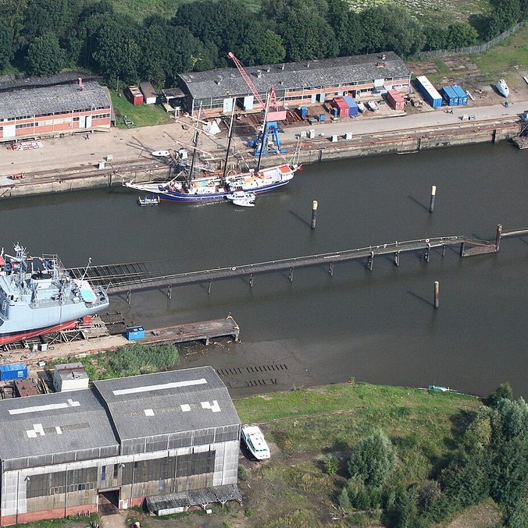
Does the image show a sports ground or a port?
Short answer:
port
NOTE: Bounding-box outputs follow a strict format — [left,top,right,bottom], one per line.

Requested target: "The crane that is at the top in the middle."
[226,50,288,155]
